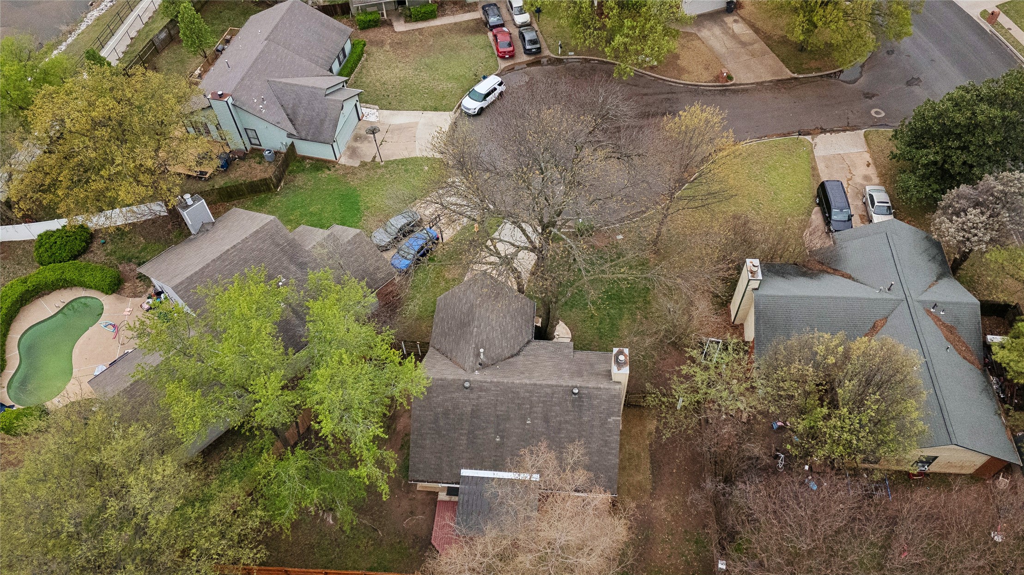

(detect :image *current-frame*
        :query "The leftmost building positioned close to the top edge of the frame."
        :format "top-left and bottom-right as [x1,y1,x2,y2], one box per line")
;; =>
[184,0,364,161]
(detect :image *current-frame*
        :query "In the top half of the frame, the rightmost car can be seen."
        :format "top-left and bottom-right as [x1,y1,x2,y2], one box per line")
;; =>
[863,185,898,223]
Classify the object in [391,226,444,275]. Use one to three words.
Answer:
car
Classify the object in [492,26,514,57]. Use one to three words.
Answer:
car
